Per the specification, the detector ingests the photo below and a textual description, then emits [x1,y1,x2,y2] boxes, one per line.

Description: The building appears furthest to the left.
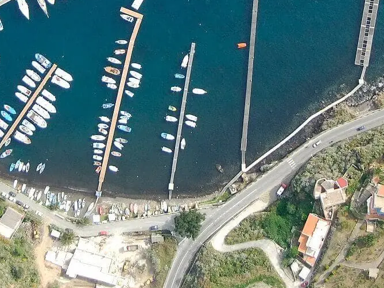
[0,205,26,238]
